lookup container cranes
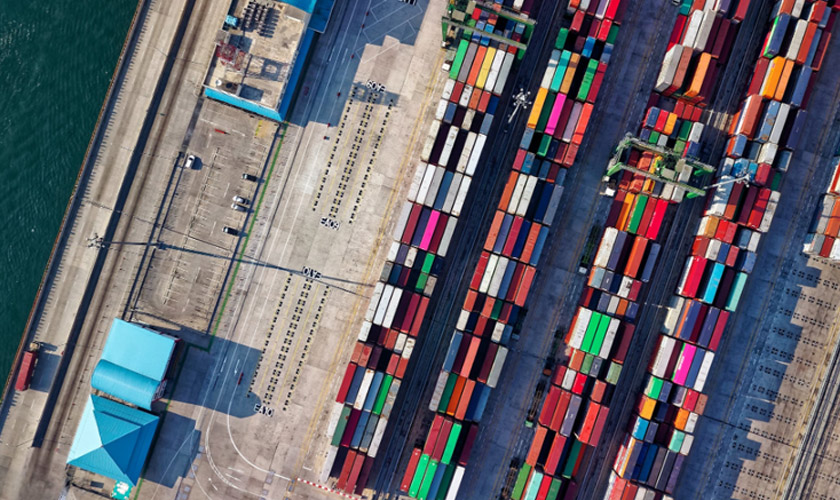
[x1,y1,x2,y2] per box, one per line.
[600,138,716,207]
[439,0,538,74]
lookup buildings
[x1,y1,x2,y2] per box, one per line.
[202,0,336,121]
[94,318,185,409]
[66,395,160,486]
